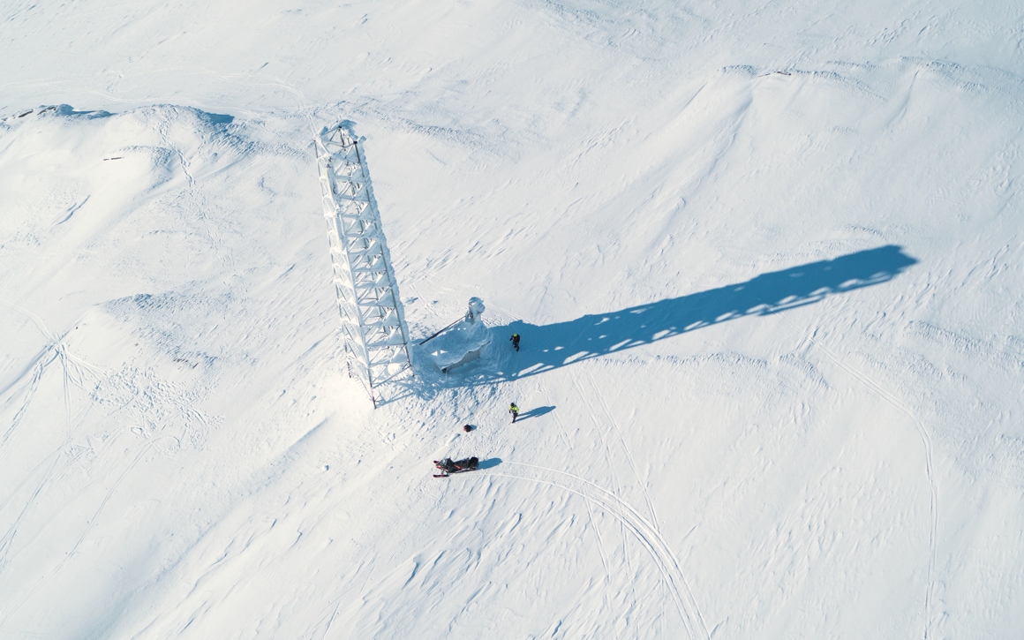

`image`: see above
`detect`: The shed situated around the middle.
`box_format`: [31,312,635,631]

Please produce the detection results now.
[420,319,495,377]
